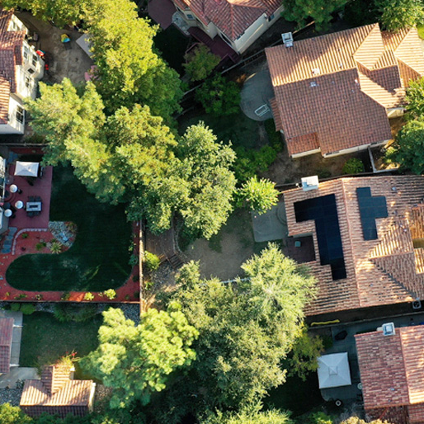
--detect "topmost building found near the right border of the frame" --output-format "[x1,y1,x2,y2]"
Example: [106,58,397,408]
[264,22,424,159]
